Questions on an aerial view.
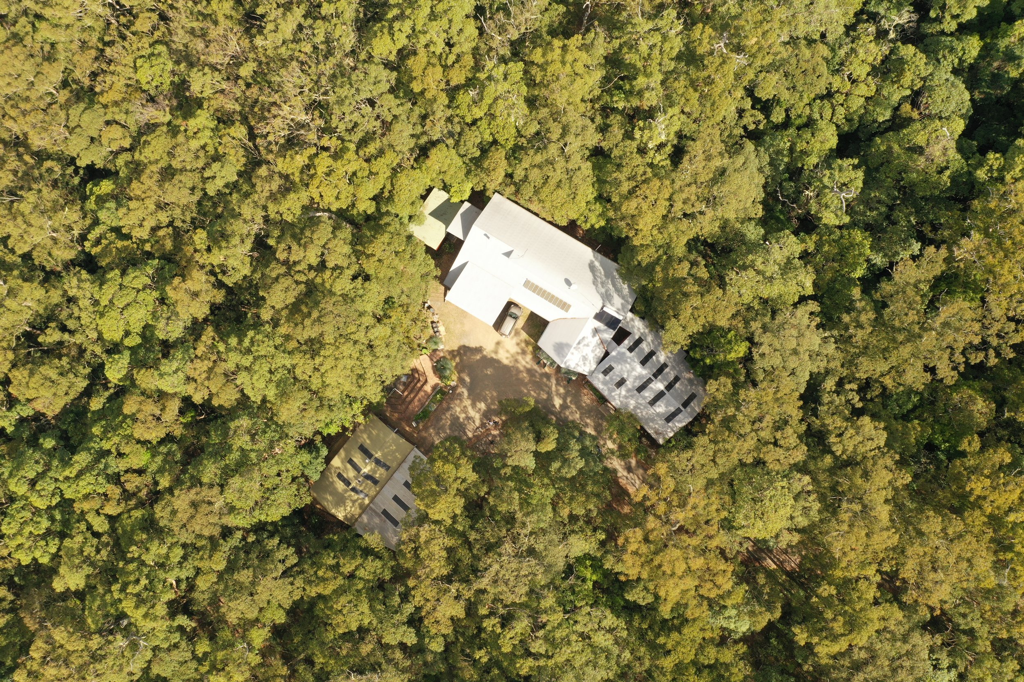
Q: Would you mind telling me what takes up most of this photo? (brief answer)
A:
trees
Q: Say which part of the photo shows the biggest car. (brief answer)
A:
center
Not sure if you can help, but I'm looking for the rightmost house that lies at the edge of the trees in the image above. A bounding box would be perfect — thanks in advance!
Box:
[587,311,711,445]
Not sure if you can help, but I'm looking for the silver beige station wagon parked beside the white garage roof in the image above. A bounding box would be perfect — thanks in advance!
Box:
[498,304,521,340]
